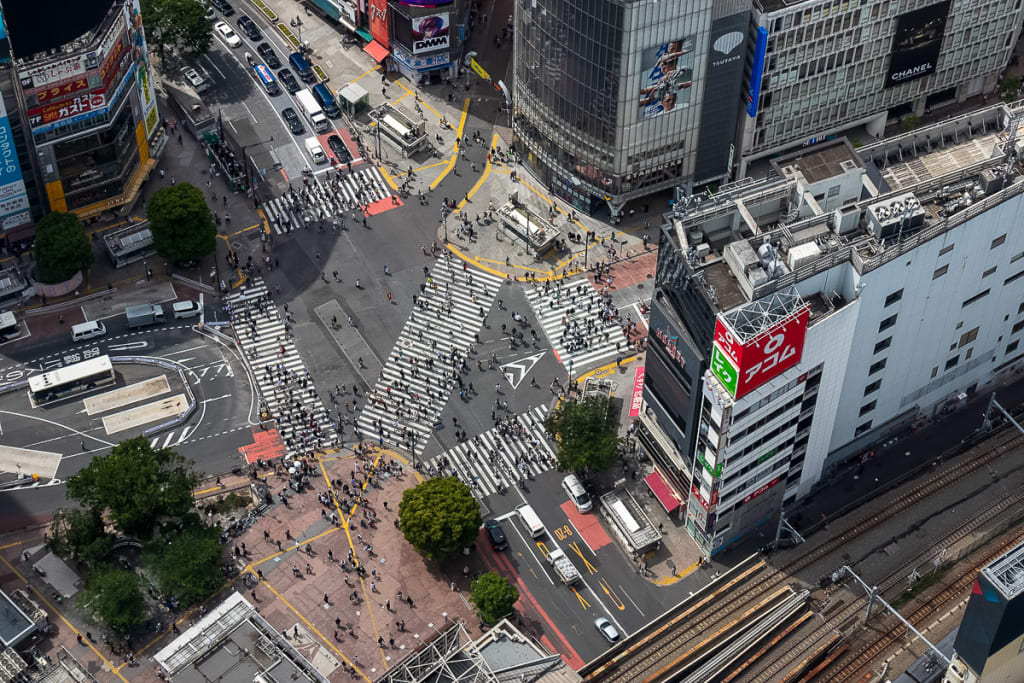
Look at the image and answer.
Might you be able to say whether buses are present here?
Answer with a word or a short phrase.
Yes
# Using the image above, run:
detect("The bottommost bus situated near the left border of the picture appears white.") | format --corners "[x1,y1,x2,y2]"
[27,353,113,401]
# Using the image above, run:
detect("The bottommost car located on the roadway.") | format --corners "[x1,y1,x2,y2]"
[593,614,623,647]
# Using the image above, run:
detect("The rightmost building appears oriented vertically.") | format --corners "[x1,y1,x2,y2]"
[956,538,1024,683]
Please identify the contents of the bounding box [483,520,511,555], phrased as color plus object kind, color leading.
black car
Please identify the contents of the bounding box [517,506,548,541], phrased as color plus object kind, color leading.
white van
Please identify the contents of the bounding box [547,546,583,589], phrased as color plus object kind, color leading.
white truck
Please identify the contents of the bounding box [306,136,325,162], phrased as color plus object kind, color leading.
white vehicle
